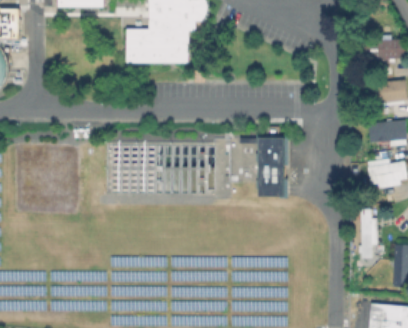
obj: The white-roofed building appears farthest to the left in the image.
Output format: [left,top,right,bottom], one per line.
[0,8,18,38]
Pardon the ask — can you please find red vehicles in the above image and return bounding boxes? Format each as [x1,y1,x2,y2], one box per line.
[234,10,243,22]
[394,215,406,226]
